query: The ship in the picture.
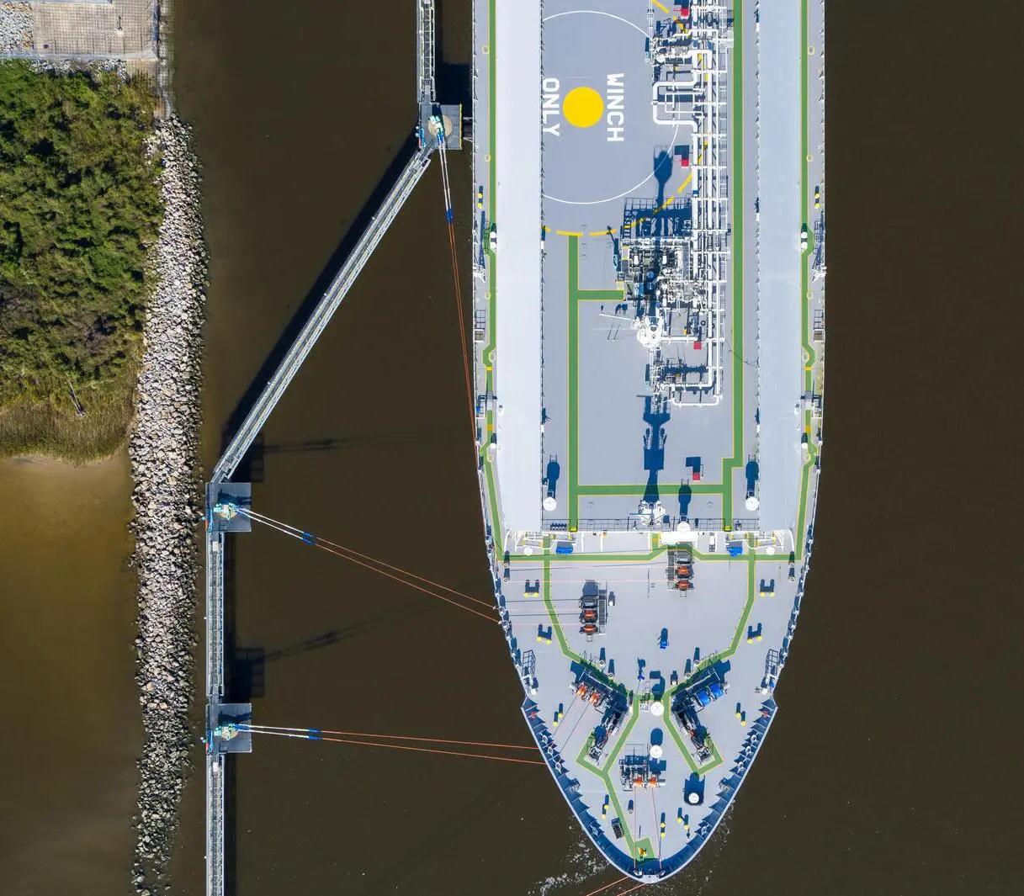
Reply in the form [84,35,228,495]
[474,0,825,884]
